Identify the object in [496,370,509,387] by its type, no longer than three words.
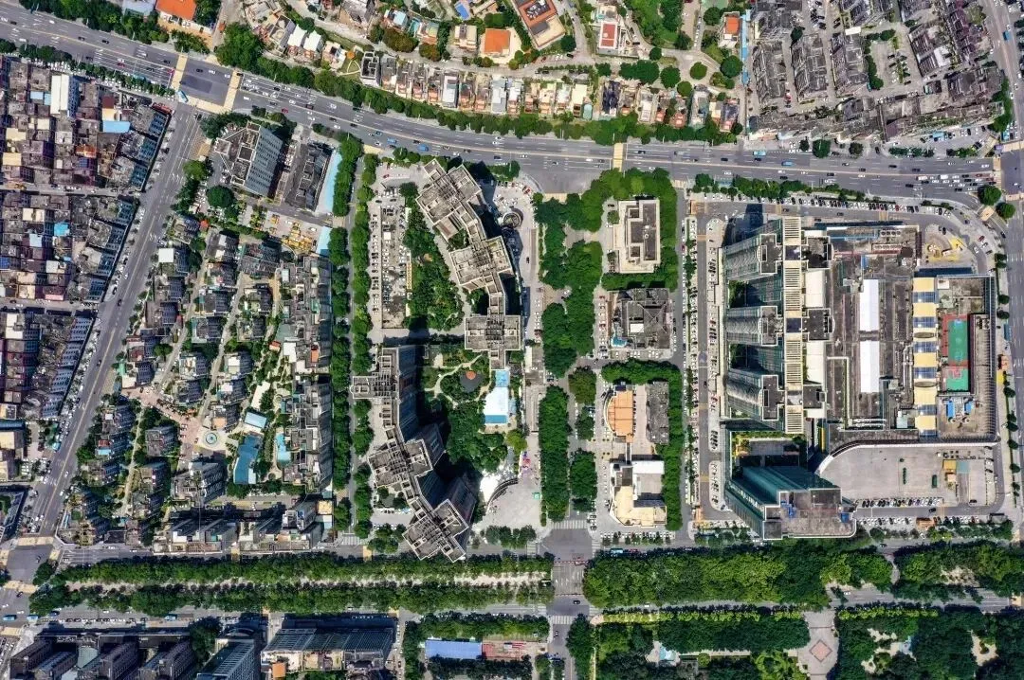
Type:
swimming pool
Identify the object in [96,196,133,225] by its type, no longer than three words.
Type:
building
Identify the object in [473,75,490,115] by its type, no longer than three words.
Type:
house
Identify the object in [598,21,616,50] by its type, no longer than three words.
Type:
house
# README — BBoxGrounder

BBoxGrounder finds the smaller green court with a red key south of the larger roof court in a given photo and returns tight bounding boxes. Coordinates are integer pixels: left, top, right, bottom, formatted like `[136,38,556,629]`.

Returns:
[941,367,964,390]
